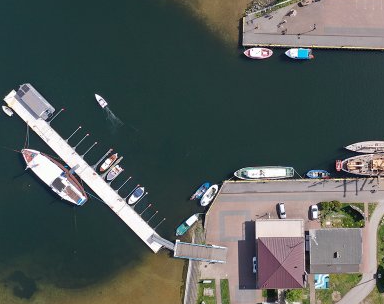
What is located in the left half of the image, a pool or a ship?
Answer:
ship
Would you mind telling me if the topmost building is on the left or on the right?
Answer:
left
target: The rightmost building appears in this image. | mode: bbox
[309,228,362,274]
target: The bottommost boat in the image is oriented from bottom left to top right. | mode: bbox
[175,211,206,236]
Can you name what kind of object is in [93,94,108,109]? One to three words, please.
boat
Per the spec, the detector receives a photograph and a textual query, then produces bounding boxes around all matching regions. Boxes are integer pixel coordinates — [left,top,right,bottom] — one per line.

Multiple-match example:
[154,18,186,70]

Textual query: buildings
[12,85,53,121]
[256,235,308,289]
[309,228,362,274]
